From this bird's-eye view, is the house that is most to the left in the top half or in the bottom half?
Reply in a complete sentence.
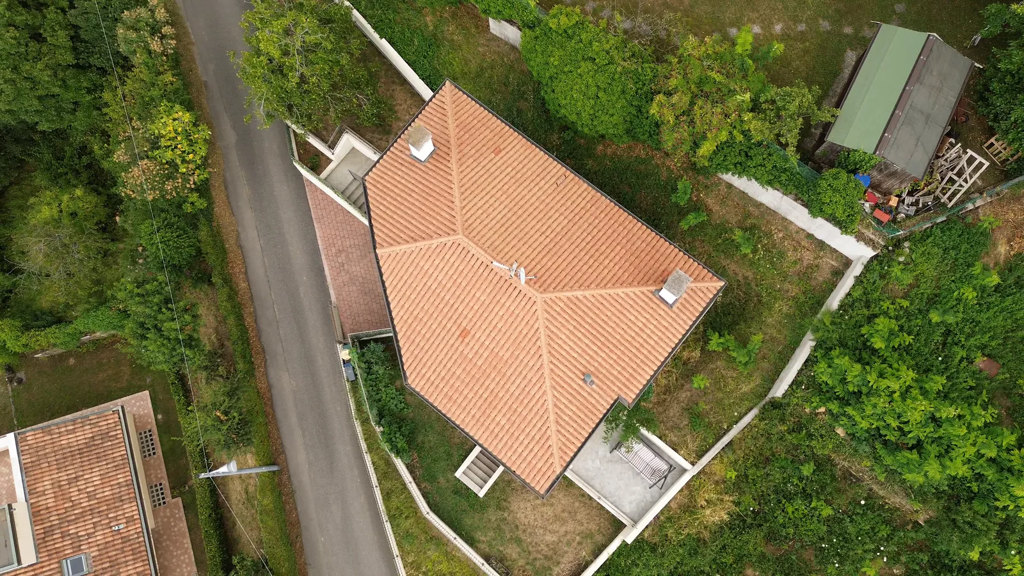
It is in the bottom half that the house that is most to the left appears.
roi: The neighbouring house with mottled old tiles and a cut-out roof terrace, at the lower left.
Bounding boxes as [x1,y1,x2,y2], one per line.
[0,406,170,576]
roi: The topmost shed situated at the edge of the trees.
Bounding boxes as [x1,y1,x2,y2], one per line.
[813,20,983,191]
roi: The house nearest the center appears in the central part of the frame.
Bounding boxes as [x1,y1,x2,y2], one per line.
[363,80,727,498]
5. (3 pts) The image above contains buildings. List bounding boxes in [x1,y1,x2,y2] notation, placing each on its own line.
[813,20,983,191]
[363,80,727,498]
[0,406,170,576]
